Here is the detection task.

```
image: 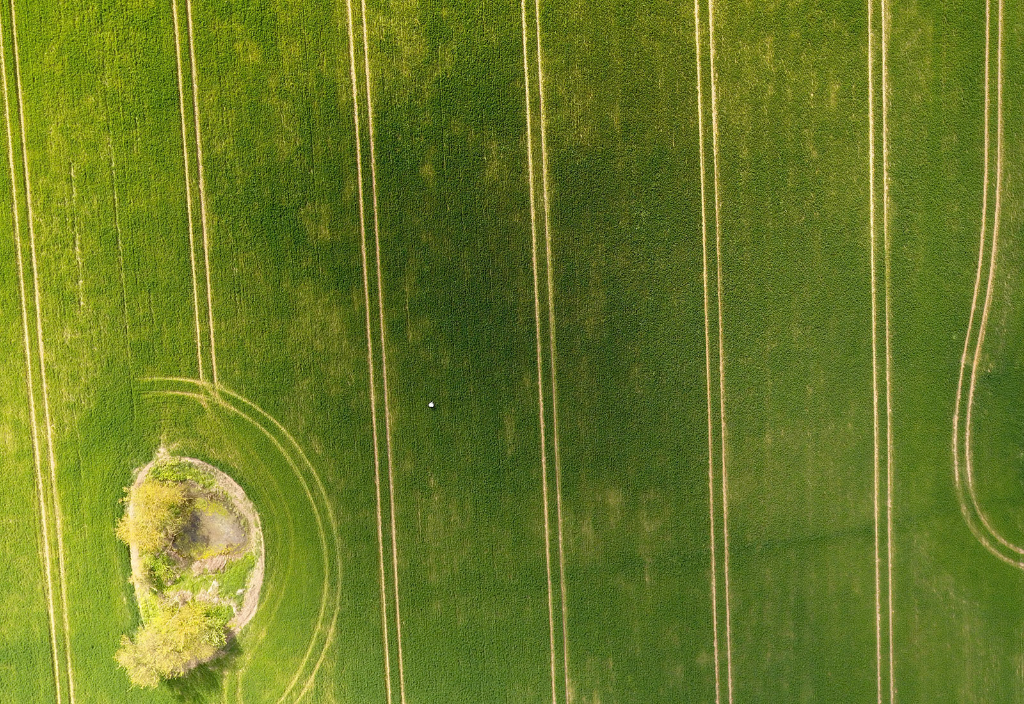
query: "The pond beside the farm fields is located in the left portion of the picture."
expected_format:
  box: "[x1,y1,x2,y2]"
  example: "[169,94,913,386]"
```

[190,501,255,552]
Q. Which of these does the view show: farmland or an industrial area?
farmland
